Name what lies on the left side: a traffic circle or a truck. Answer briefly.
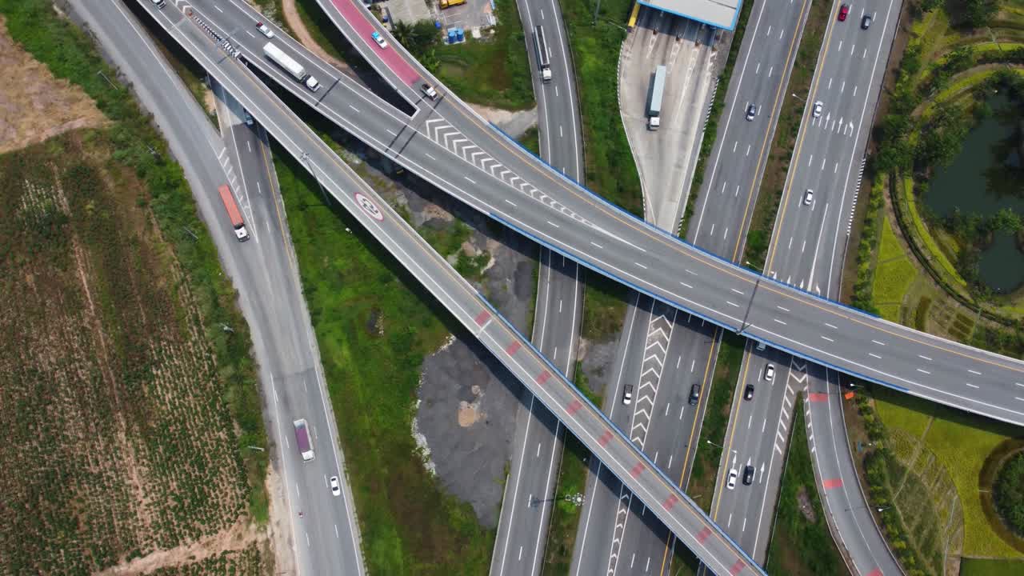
truck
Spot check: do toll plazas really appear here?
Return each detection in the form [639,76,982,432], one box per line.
[619,0,742,234]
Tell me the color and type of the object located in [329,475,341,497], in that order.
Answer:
white vehicle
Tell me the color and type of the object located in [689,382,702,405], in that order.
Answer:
gray vehicle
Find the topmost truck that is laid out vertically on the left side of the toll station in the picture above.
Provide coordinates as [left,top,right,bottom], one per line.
[532,22,553,84]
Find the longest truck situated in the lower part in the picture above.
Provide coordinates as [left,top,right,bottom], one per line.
[290,418,315,464]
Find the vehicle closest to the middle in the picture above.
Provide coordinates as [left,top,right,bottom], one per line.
[622,382,634,406]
